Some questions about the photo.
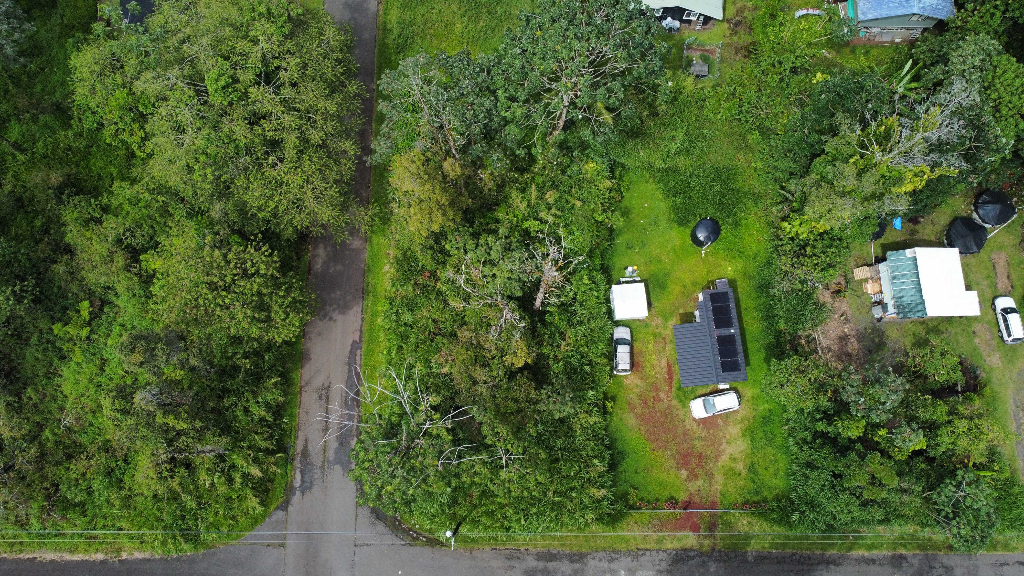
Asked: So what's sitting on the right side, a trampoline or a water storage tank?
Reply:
water storage tank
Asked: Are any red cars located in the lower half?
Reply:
No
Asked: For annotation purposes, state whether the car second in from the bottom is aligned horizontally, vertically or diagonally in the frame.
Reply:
vertically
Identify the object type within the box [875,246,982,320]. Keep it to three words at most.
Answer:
house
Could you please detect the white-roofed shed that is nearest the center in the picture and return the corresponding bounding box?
[609,282,648,321]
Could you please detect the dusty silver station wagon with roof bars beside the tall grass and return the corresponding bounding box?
[611,325,635,378]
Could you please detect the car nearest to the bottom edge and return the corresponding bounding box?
[688,388,744,419]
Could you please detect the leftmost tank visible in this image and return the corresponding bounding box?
[692,217,724,258]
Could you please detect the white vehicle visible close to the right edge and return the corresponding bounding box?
[990,295,1024,347]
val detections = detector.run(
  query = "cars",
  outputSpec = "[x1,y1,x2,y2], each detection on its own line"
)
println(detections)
[688,388,744,419]
[611,325,635,378]
[990,295,1024,347]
